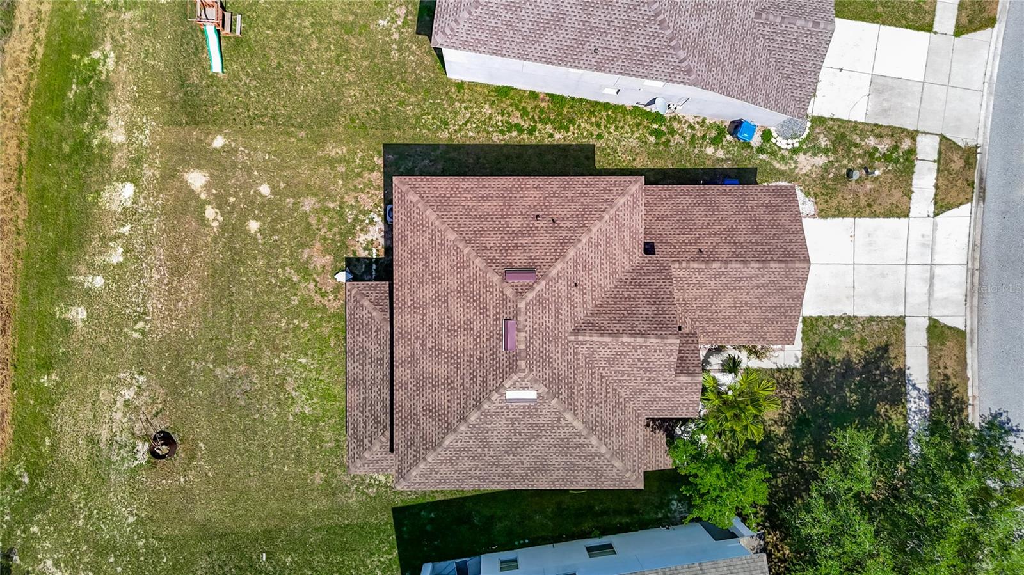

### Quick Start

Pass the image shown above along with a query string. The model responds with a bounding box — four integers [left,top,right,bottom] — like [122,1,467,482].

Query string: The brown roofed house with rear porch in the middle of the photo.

[346,176,809,490]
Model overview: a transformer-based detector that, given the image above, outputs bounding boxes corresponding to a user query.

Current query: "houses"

[432,0,840,127]
[346,176,809,490]
[419,516,772,575]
